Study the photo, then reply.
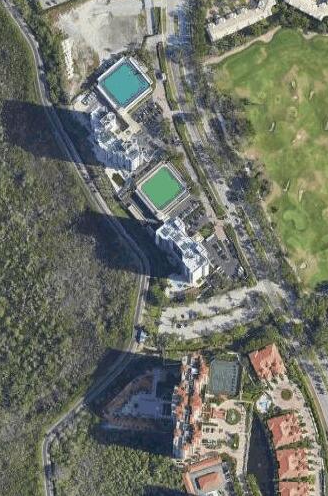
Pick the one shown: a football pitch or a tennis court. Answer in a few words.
tennis court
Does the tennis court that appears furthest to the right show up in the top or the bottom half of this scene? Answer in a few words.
bottom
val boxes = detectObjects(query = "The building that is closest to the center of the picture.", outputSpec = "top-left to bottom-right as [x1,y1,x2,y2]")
[154,217,209,284]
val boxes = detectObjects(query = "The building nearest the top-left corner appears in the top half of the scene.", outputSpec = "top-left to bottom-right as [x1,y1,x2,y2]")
[97,57,152,111]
